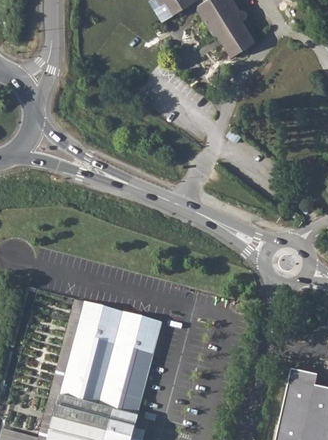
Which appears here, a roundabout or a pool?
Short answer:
roundabout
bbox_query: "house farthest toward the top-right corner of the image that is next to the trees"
[196,0,256,56]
